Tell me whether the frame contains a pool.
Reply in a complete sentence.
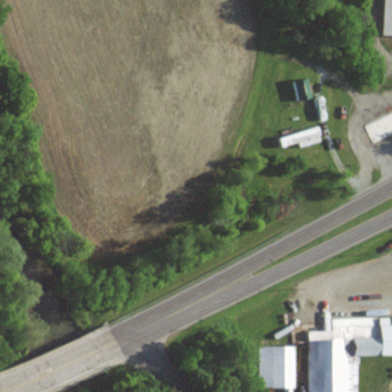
No, the frame has no pool in it.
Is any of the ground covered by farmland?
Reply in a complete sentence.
Yes, farmland can be seen from above here.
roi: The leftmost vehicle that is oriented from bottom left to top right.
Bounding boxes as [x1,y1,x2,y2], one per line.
[274,321,300,339]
